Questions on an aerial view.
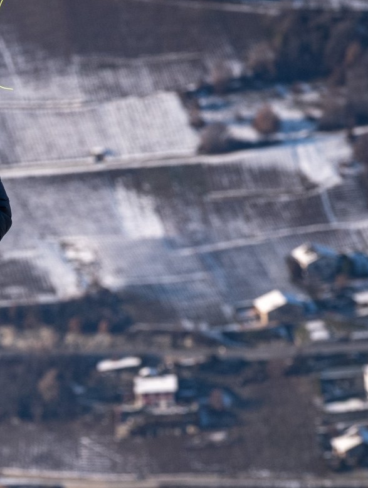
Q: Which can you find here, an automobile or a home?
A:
home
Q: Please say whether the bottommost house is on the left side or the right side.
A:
right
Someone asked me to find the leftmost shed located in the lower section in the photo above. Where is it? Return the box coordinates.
[94,359,143,373]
